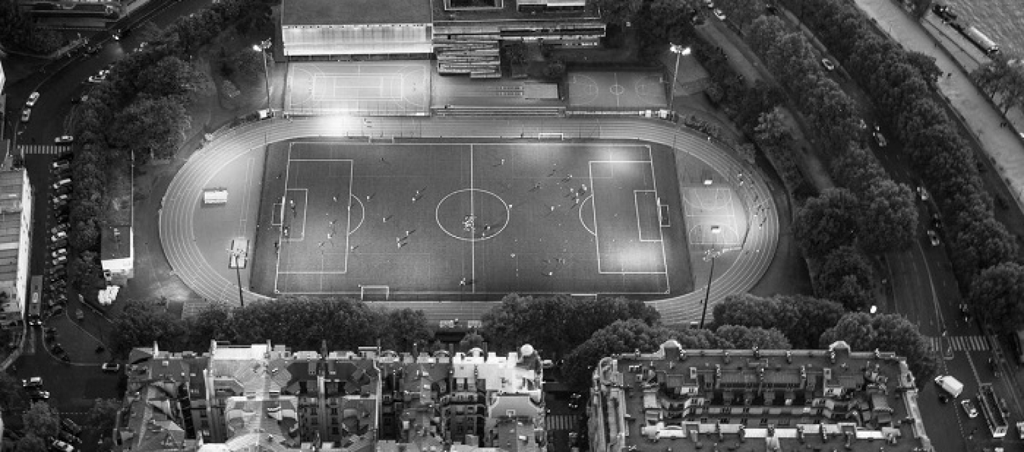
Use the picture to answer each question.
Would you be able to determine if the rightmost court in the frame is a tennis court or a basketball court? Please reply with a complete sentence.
It turns out the rightmost court is a basketball court.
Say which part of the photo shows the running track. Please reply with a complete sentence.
You can find the running track in the center area of the picture.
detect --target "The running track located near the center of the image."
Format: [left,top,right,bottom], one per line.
[160,116,780,326]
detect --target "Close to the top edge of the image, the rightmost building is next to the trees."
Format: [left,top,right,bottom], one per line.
[433,0,613,81]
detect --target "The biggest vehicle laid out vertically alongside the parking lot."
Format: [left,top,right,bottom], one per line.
[27,270,45,326]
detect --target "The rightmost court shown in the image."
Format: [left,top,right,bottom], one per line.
[684,187,743,244]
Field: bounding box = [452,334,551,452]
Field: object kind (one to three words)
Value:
building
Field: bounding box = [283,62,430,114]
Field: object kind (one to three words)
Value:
sports court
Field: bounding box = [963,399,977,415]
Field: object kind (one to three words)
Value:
car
